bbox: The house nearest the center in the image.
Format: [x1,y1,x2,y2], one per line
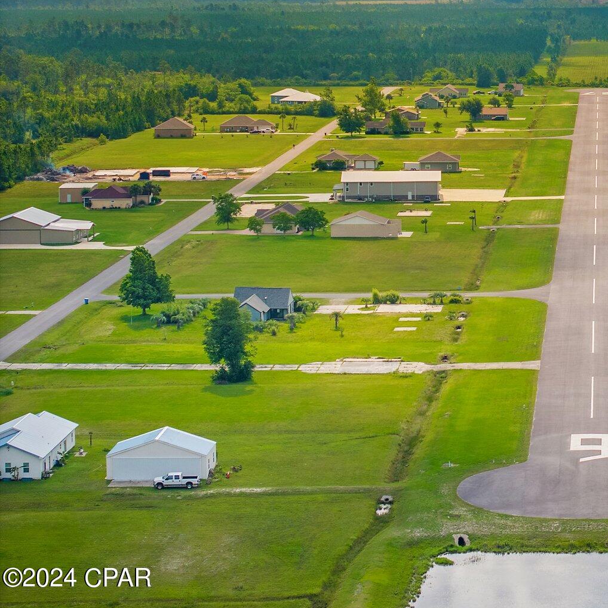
[234,288,294,320]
